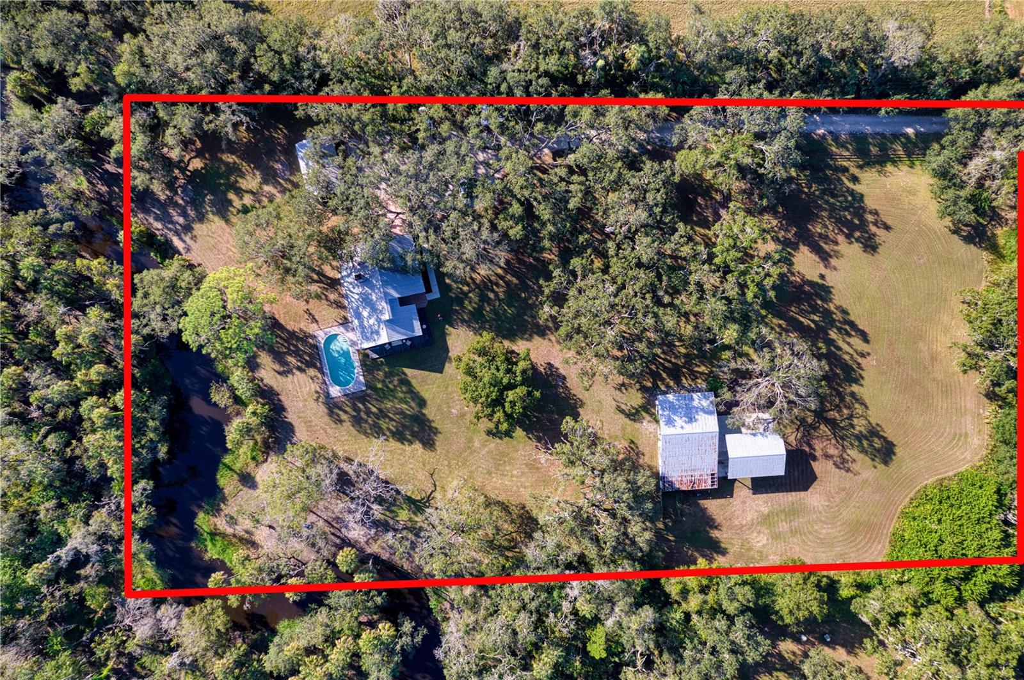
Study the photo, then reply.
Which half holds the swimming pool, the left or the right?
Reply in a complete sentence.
The swimming pool is on the left side of the image.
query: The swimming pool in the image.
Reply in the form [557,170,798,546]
[317,332,361,389]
